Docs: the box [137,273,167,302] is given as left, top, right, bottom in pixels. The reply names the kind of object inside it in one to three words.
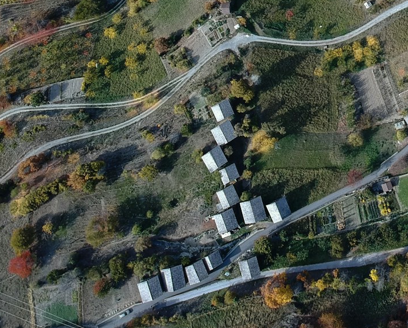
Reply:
barn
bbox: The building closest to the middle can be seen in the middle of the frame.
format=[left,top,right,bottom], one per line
[201,145,229,173]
